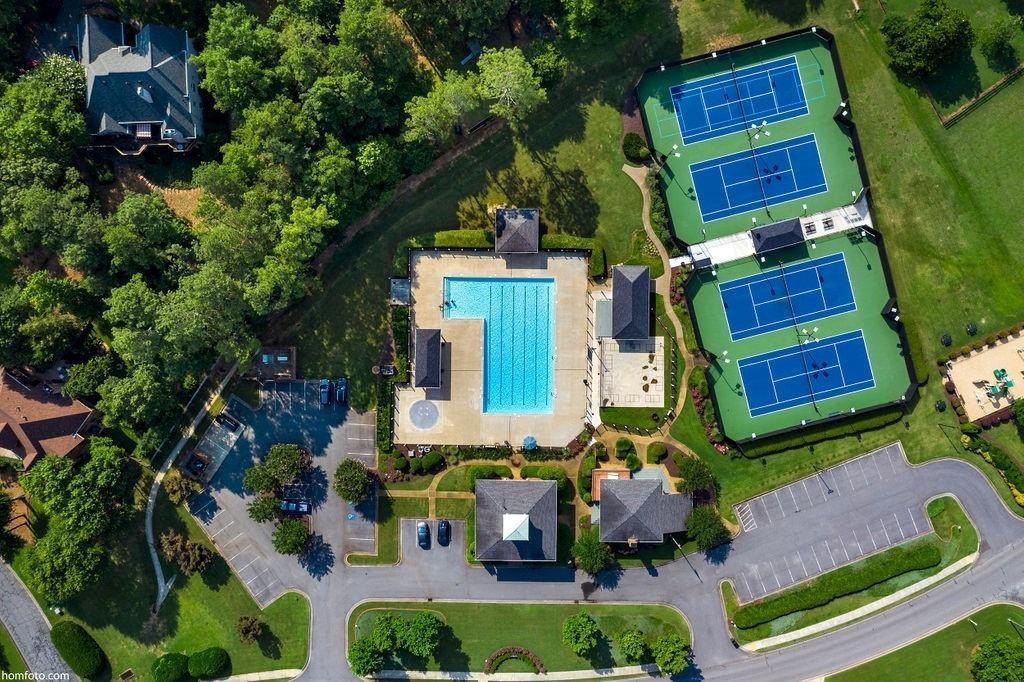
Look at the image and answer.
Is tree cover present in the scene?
Yes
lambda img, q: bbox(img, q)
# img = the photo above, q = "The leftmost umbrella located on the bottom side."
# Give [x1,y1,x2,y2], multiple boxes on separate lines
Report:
[522,435,537,450]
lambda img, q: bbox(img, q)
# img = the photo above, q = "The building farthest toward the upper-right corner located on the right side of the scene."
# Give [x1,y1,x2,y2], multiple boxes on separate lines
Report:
[749,217,806,254]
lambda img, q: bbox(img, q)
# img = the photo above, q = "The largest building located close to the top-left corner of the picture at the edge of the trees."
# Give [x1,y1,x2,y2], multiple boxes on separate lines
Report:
[77,13,204,158]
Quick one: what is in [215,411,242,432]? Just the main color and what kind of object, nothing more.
black car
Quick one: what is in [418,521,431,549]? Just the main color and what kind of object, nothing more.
blue vehicle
